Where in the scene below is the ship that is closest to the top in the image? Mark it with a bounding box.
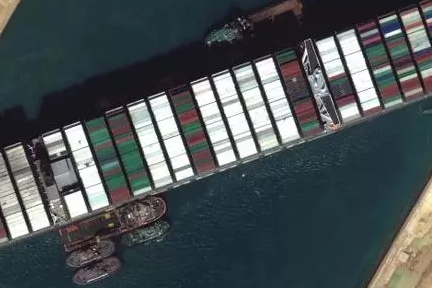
[246,0,307,25]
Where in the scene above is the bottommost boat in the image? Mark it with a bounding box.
[71,258,122,284]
